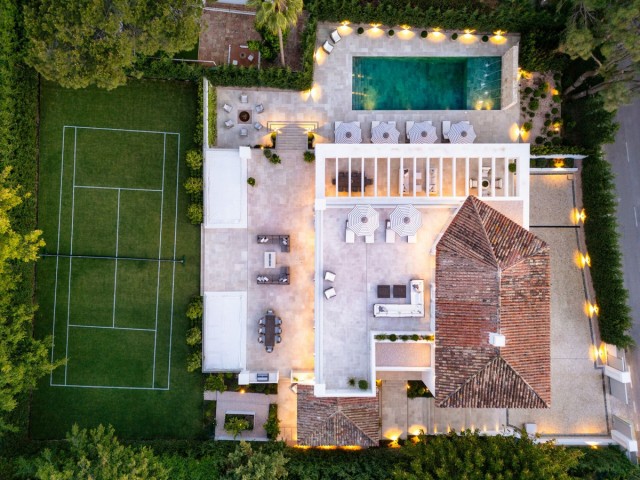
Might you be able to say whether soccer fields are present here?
No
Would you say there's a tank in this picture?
No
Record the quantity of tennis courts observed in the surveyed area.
1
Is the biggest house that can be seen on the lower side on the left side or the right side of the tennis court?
to the right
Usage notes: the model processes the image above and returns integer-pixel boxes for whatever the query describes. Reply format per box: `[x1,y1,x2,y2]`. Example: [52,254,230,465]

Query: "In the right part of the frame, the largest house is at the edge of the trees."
[314,195,552,409]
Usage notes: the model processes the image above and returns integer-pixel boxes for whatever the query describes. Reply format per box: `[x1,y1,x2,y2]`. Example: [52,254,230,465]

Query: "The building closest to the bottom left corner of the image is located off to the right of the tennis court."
[203,289,250,371]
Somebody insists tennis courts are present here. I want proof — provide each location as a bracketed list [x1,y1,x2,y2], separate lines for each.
[32,99,191,415]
